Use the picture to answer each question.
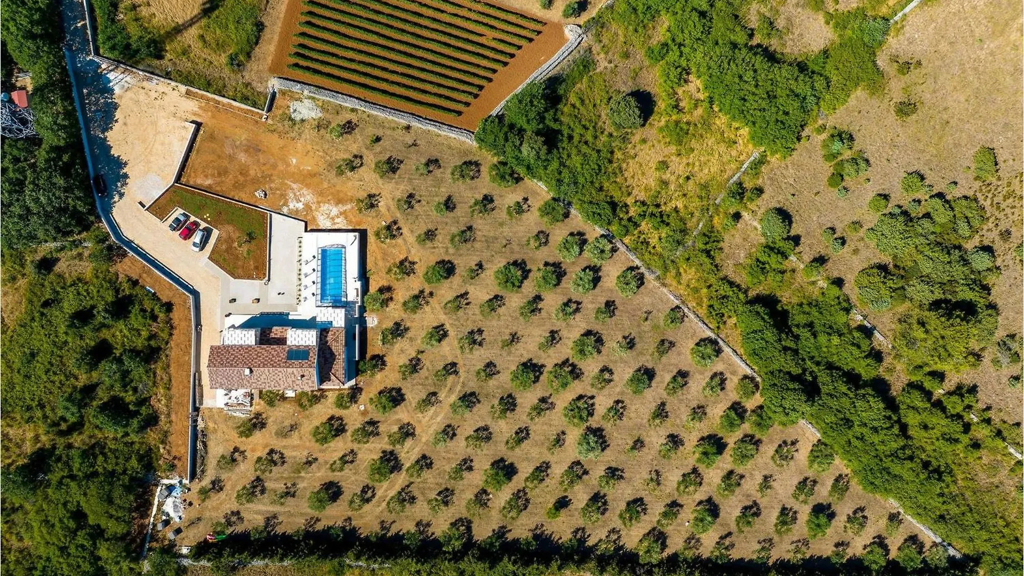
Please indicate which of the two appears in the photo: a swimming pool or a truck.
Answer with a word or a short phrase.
swimming pool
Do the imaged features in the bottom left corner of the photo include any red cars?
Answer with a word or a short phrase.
No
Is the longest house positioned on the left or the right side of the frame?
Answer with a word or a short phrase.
left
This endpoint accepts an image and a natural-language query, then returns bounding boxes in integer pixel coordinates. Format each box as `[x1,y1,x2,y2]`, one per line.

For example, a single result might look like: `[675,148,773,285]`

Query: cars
[167,211,189,232]
[178,220,200,240]
[192,228,209,253]
[93,173,109,198]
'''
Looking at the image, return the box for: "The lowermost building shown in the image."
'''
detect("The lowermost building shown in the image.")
[206,327,351,390]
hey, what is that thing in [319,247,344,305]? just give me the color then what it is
blue swimming pool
